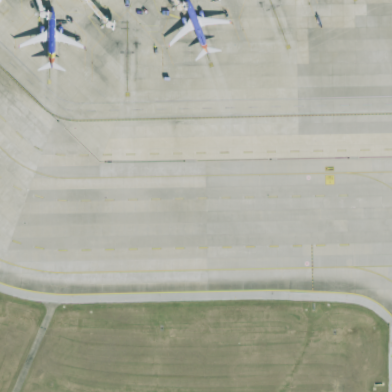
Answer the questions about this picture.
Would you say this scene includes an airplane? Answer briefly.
Yes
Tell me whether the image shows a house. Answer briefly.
No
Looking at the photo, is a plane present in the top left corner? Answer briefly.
Yes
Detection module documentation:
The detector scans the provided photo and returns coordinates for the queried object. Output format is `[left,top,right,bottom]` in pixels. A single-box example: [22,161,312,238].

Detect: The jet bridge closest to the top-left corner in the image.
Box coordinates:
[34,0,50,18]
